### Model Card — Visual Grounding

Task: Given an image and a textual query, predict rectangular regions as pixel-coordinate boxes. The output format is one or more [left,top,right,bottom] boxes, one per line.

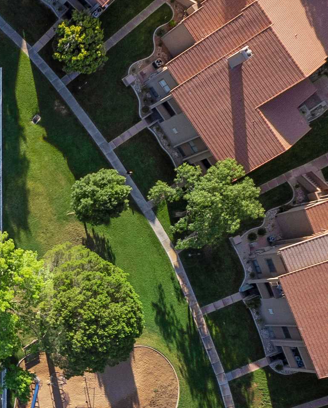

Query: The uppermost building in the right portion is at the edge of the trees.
[126,0,328,198]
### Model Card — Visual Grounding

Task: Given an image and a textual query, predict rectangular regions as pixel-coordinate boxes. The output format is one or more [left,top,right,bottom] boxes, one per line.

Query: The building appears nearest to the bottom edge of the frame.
[222,172,328,378]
